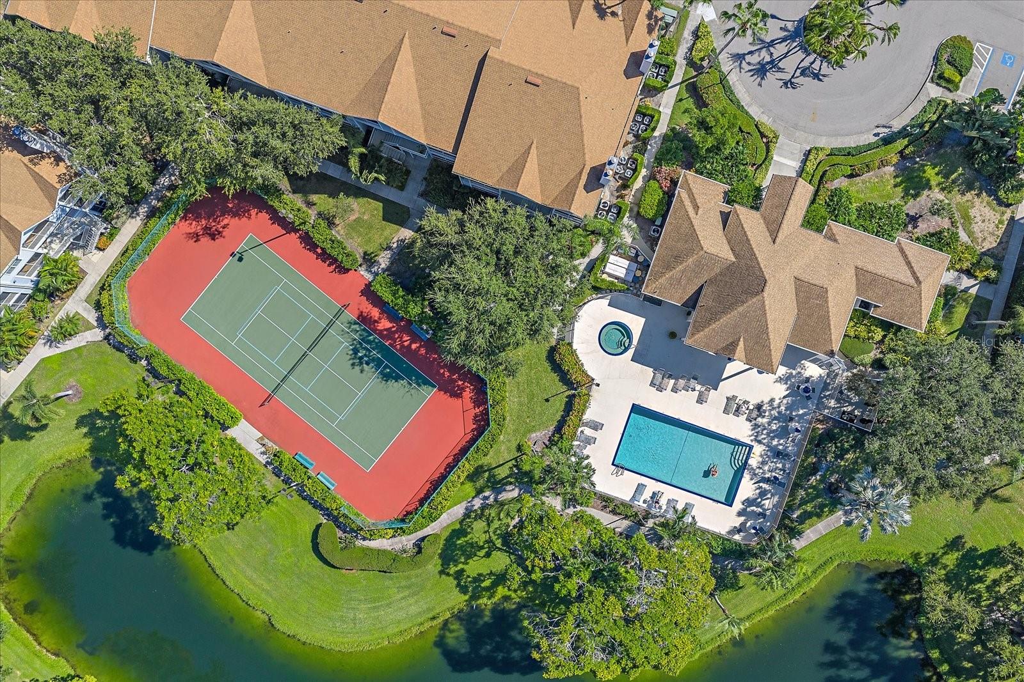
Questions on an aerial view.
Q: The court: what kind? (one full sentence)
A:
I'd say the court is a tennis court.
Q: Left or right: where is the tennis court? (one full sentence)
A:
The tennis court appears in the left half of the scene.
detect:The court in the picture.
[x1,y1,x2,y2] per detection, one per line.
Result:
[130,192,488,522]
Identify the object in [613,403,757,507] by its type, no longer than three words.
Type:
swimming pool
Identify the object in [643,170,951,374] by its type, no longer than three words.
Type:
building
